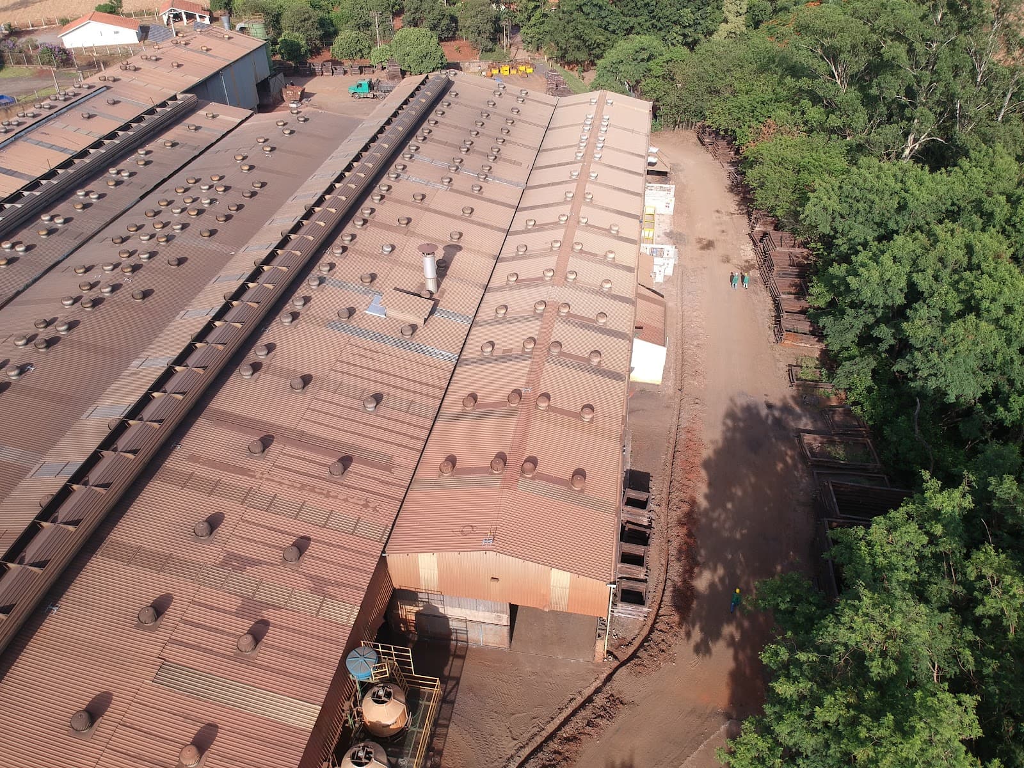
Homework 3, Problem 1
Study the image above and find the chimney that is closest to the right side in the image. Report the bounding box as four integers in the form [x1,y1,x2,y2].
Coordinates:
[420,245,443,295]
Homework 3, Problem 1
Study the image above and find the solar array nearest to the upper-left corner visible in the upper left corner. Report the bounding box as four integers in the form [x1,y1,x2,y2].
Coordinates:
[148,24,177,42]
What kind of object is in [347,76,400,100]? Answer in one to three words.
truck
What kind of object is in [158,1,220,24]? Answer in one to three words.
house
